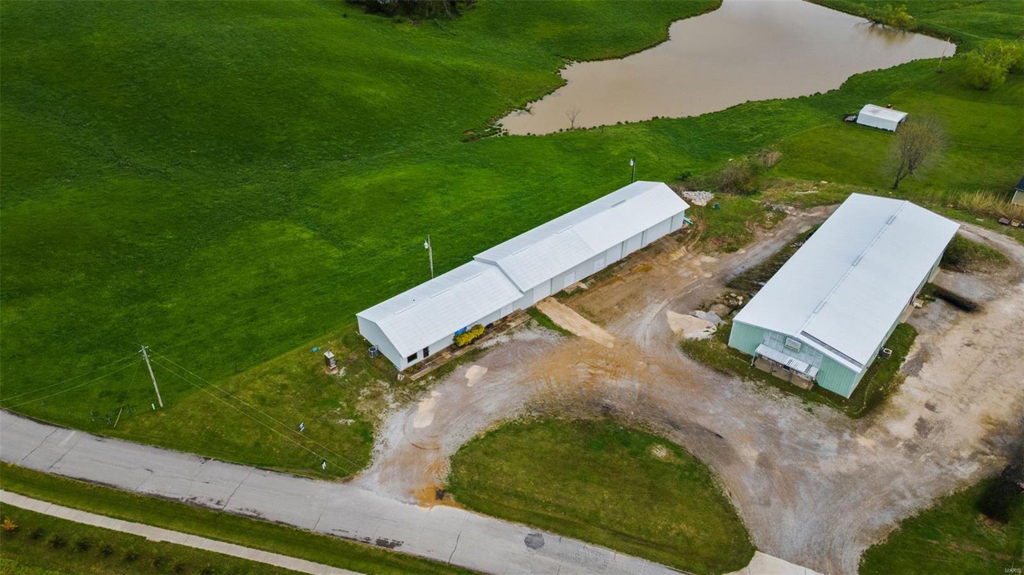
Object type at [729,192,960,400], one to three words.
building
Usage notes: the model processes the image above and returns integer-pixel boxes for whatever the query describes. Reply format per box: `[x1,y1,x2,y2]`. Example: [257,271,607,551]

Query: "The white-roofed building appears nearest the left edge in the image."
[356,180,690,369]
